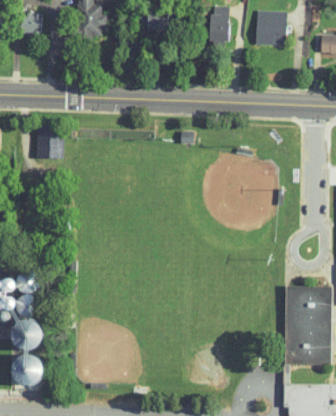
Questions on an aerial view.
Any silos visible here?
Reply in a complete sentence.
Yes, there's a silo here.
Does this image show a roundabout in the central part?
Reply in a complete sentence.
No, I see no roundabout in the central part.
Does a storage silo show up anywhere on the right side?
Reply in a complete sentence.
No, there is no storage silo on the right side.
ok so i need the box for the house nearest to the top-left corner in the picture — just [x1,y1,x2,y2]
[22,8,44,34]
